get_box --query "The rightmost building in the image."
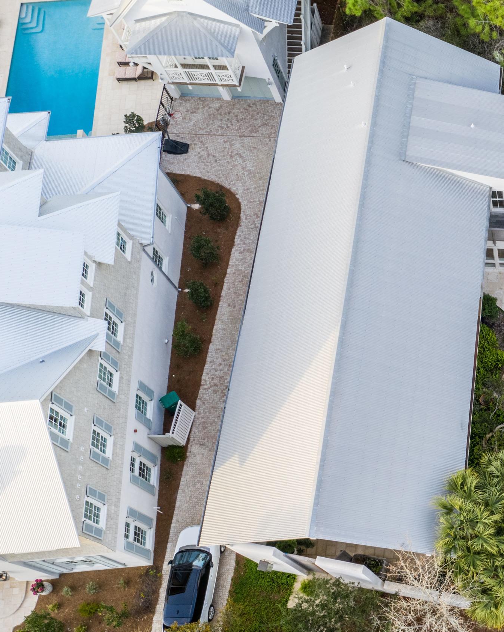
[197,17,504,559]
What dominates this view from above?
buildings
